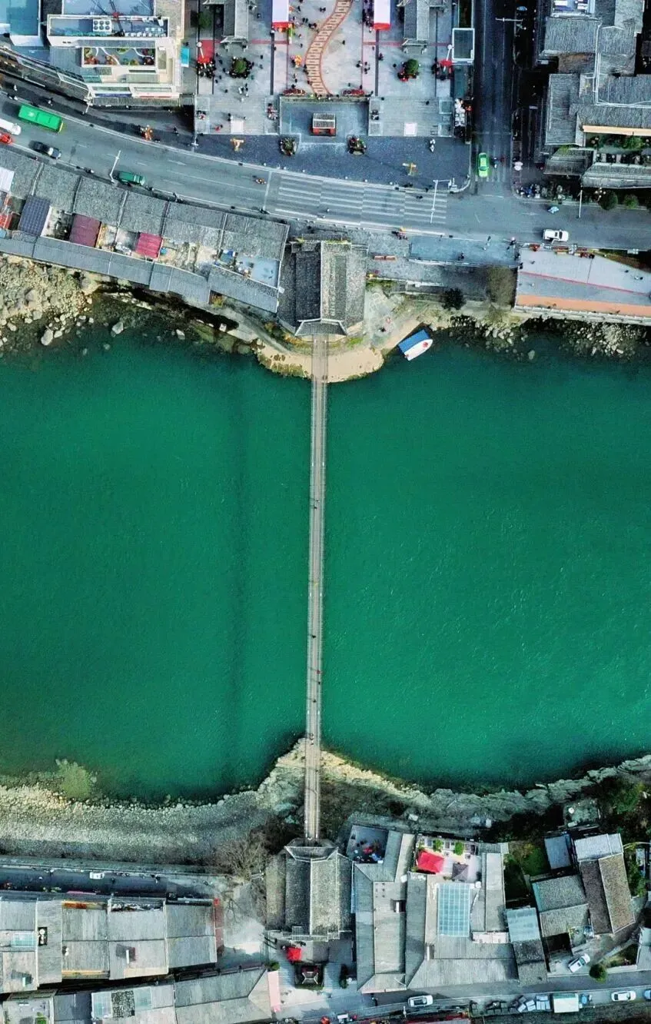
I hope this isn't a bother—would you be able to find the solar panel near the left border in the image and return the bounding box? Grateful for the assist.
[18,197,50,236]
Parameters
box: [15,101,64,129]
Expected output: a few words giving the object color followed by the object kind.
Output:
green bus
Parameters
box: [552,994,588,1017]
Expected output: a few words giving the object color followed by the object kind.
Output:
white truck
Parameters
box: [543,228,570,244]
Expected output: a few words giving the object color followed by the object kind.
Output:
white car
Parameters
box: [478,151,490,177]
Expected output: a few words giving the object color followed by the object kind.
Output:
green vehicle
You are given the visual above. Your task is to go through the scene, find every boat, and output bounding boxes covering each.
[399,330,434,362]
